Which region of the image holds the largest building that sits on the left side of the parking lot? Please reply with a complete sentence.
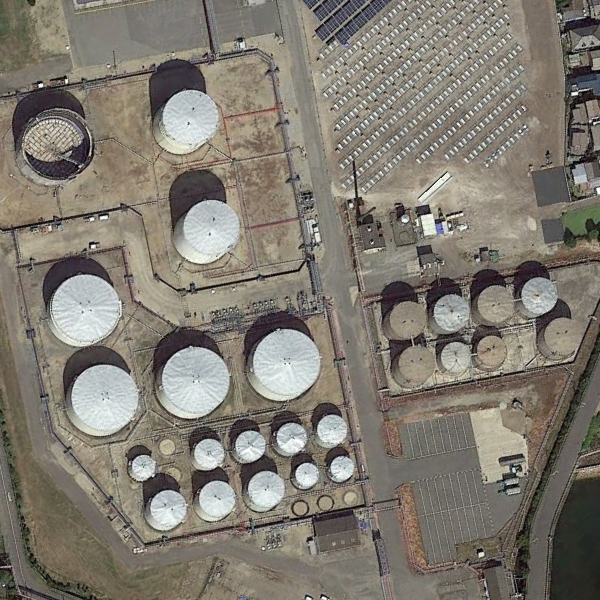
You can find the largest building that sits on the left side of the parking lot in the bottom area of the picture.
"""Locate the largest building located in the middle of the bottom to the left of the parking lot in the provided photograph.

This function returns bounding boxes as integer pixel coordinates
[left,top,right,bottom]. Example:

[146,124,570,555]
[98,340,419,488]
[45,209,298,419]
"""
[314,514,361,555]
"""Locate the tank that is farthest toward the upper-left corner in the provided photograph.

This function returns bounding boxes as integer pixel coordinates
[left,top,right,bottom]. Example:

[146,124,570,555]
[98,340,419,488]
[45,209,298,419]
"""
[13,106,95,188]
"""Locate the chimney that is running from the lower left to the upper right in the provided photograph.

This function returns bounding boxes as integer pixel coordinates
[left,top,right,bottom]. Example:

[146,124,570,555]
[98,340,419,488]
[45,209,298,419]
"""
[357,207,377,223]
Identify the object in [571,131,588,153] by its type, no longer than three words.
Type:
house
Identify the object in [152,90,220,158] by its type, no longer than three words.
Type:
storage tank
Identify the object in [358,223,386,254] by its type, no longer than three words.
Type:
building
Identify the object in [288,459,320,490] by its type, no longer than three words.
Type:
storage tank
